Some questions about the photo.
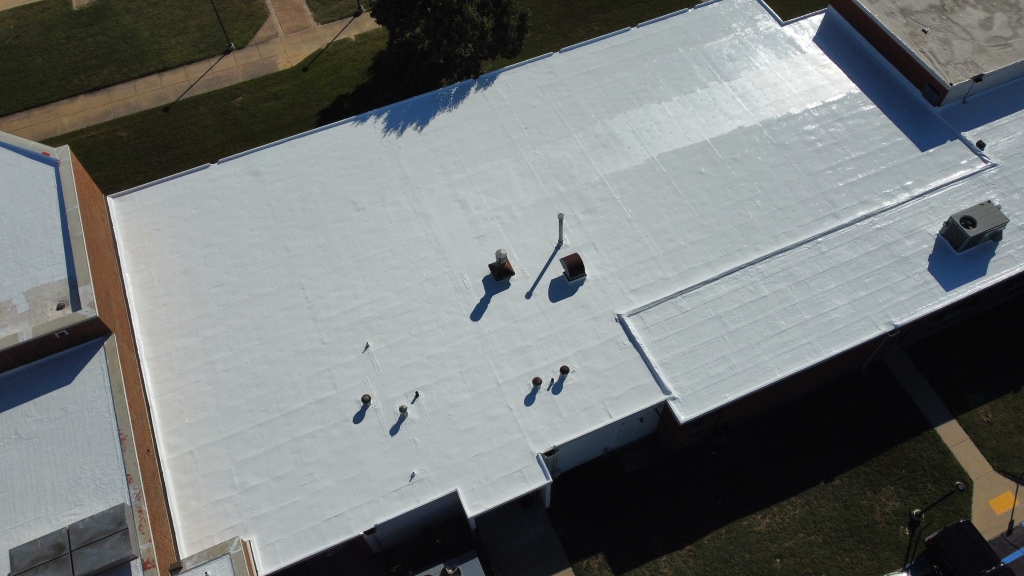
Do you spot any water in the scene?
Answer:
No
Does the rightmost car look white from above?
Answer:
No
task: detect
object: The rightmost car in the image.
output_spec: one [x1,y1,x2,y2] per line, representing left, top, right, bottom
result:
[921,517,1016,576]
